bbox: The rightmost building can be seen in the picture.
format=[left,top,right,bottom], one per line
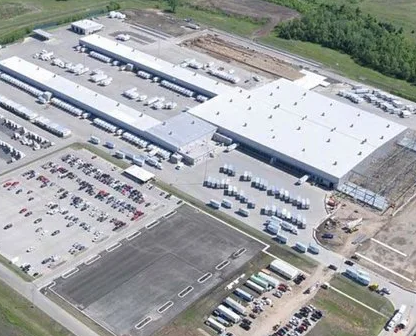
[338,135,416,211]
